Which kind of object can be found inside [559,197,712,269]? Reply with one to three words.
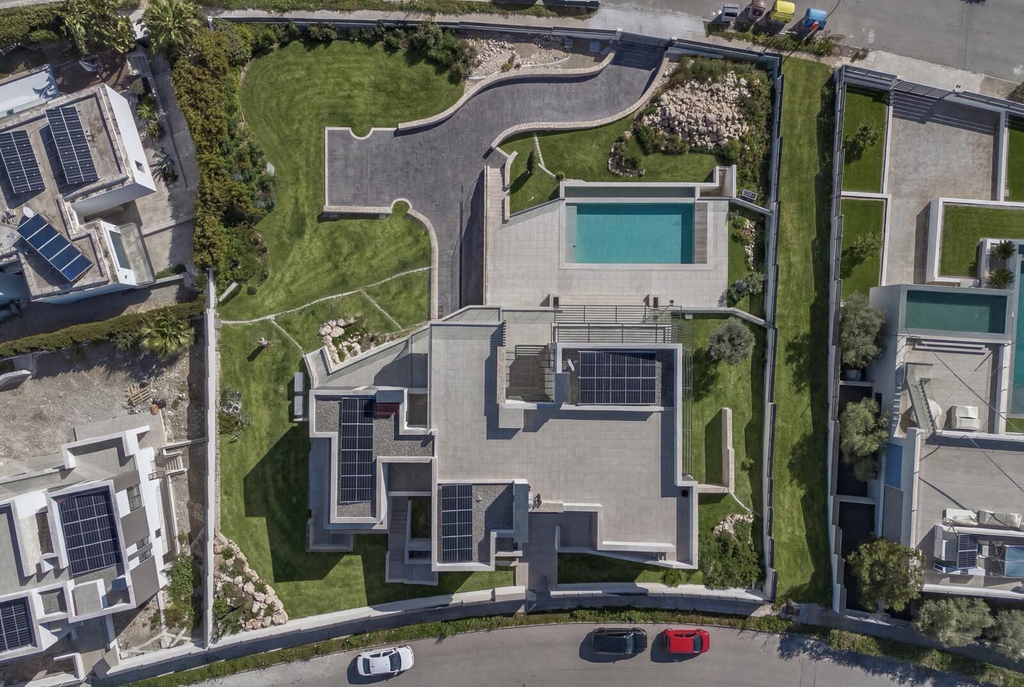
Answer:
swimming pool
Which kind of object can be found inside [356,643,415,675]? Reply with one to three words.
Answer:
car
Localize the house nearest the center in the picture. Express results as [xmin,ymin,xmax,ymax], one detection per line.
[305,308,698,591]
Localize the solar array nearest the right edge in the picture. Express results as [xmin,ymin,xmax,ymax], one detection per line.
[999,541,1024,578]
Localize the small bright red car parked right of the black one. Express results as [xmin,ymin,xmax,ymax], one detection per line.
[662,625,709,654]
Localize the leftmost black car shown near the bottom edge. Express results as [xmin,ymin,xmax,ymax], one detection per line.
[590,624,647,655]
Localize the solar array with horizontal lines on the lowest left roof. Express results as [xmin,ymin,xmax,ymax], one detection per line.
[0,598,35,648]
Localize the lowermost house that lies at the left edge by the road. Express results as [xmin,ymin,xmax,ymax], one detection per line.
[0,424,178,656]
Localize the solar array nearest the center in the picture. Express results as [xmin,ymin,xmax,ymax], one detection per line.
[577,351,657,405]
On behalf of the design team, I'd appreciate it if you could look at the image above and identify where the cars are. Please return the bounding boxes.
[590,624,647,655]
[662,625,709,654]
[356,643,415,675]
